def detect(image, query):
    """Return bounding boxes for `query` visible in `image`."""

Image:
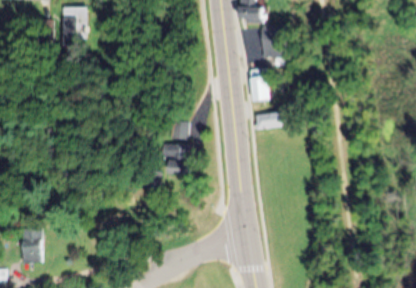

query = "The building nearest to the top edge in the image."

[238,0,268,24]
